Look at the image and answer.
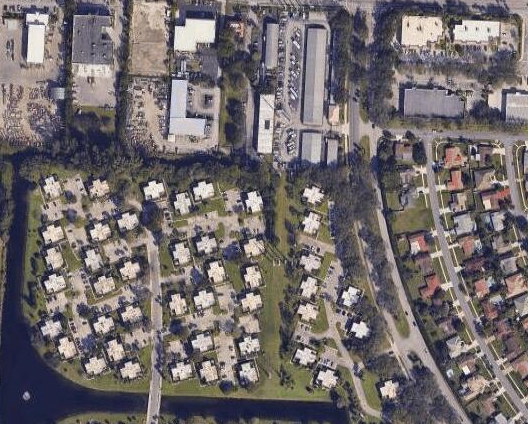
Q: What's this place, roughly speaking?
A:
residential area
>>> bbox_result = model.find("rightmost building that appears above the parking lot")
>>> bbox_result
[454,21,501,42]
